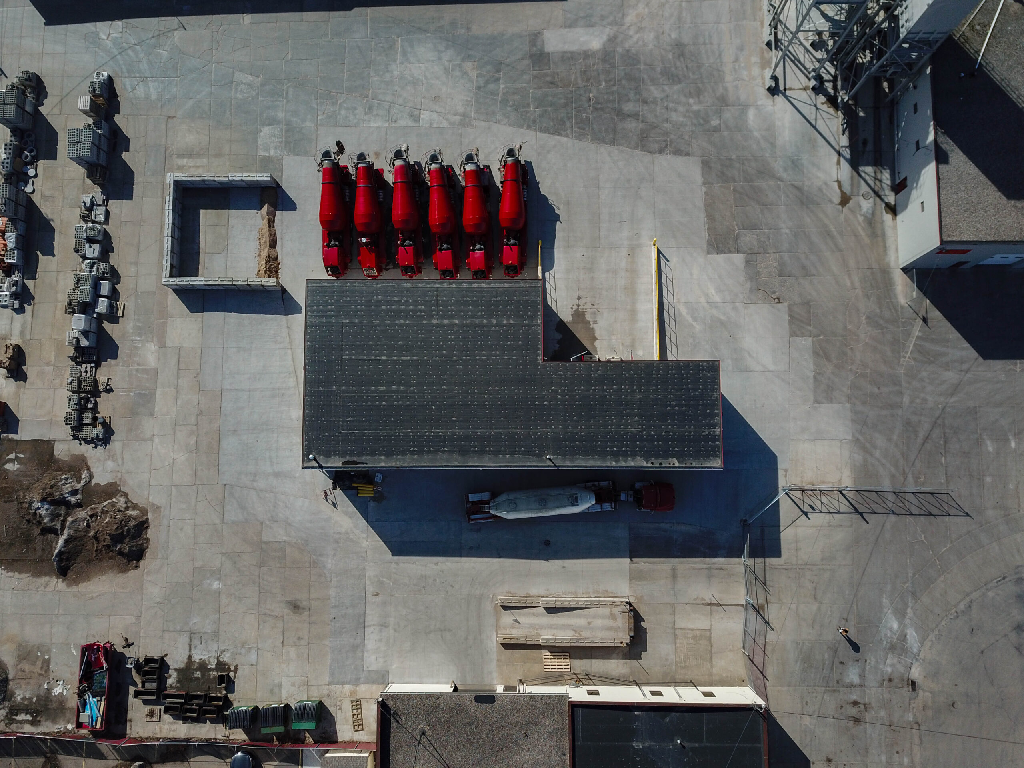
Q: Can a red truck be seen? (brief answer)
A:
Yes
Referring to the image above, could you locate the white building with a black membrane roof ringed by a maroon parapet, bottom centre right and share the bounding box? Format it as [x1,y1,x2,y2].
[569,684,773,768]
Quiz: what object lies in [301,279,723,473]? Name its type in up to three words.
building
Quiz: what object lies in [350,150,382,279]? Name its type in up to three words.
truck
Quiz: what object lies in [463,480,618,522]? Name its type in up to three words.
trailer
